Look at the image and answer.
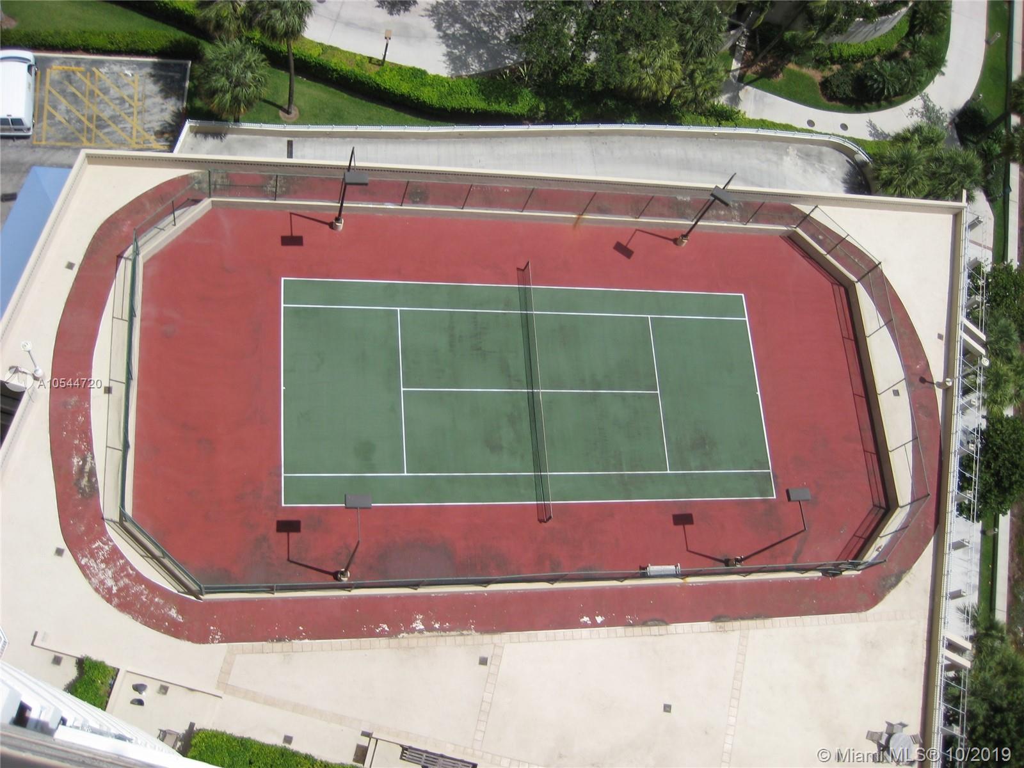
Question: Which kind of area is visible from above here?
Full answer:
This looks like a sports ground.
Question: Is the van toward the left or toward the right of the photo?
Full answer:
The van sits on the left side.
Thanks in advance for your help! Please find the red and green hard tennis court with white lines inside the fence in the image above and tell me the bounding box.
[134,208,889,592]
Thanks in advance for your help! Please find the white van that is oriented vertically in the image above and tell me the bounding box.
[0,48,39,140]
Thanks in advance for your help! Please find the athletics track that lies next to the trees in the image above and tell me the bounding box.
[50,170,942,642]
